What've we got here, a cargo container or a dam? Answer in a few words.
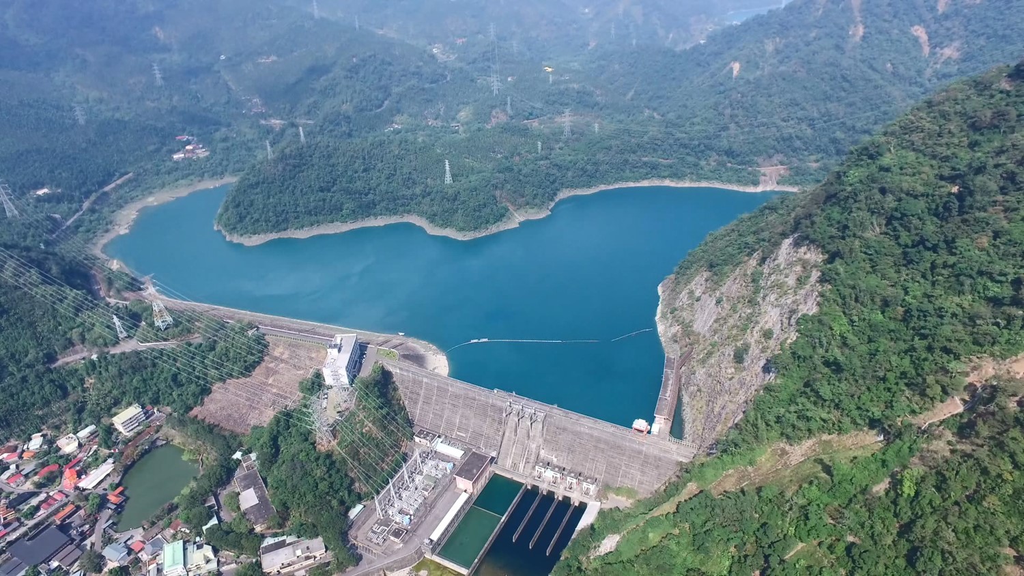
dam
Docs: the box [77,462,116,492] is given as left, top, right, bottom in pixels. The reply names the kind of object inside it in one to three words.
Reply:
building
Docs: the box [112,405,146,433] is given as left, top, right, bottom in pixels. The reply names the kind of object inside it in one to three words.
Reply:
building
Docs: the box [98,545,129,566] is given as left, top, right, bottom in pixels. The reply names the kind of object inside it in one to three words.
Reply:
house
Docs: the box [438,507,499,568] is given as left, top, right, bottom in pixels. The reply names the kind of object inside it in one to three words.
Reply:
swimming pool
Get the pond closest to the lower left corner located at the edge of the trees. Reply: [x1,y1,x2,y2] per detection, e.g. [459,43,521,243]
[116,444,200,533]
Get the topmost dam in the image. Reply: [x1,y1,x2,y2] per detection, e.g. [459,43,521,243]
[382,353,689,496]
